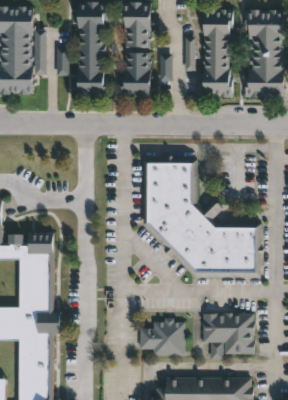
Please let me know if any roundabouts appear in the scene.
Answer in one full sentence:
No, I can't see a single roundabout in this photo.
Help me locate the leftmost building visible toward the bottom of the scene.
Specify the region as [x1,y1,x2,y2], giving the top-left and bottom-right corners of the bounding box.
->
[0,200,59,400]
